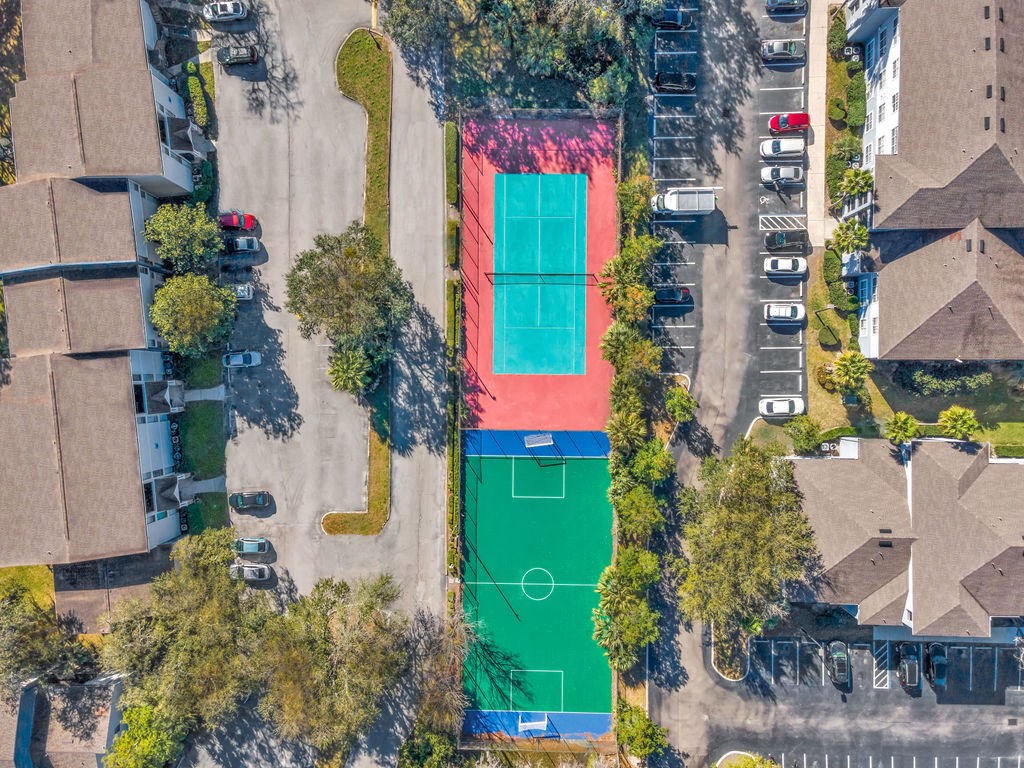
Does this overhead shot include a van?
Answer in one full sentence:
Yes, the frame does contain a van.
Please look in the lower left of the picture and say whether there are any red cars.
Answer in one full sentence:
No, no red car can be made out in the lower left of the picture.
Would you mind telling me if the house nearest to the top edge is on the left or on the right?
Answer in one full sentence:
The house nearest to the top edge is on the left side of the image.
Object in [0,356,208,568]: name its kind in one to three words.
house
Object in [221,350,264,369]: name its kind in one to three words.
car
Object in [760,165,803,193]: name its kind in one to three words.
car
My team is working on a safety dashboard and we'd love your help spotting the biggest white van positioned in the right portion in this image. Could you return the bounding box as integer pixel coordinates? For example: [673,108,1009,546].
[652,185,725,213]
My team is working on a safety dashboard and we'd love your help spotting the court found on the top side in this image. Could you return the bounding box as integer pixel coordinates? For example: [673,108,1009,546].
[461,108,616,431]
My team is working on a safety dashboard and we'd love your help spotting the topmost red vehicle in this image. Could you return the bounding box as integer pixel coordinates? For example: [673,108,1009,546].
[768,112,811,134]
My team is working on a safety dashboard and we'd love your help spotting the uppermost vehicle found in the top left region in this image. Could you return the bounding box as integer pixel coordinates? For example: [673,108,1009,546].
[204,0,247,22]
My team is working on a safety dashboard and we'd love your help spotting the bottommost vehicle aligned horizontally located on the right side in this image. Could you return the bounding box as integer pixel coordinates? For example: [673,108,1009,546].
[760,397,801,417]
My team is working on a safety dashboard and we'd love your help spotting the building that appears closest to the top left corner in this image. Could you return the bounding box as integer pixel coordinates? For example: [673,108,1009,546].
[23,0,159,82]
